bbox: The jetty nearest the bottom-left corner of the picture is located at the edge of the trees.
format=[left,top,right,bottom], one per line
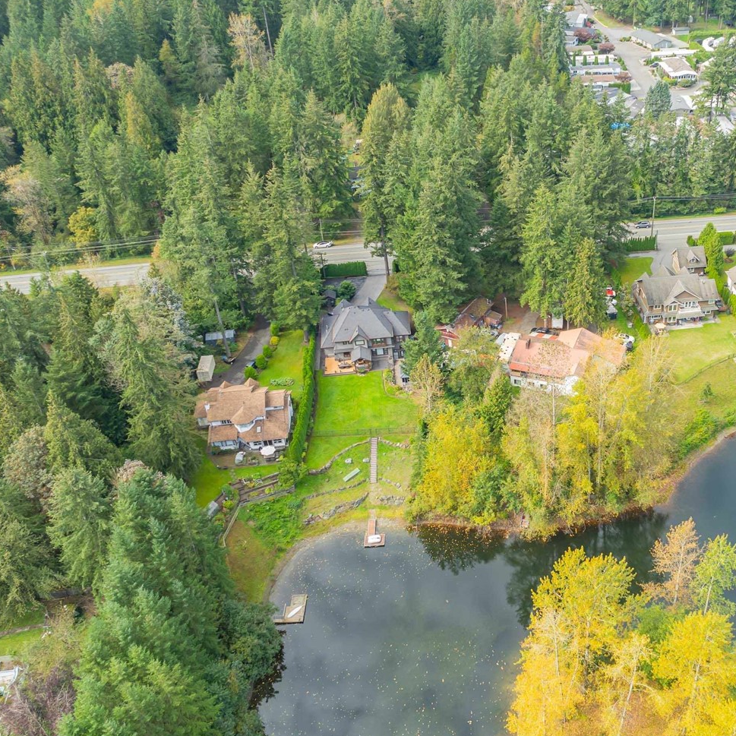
[275,594,309,623]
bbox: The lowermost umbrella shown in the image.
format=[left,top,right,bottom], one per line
[258,444,278,457]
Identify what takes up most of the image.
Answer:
trees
